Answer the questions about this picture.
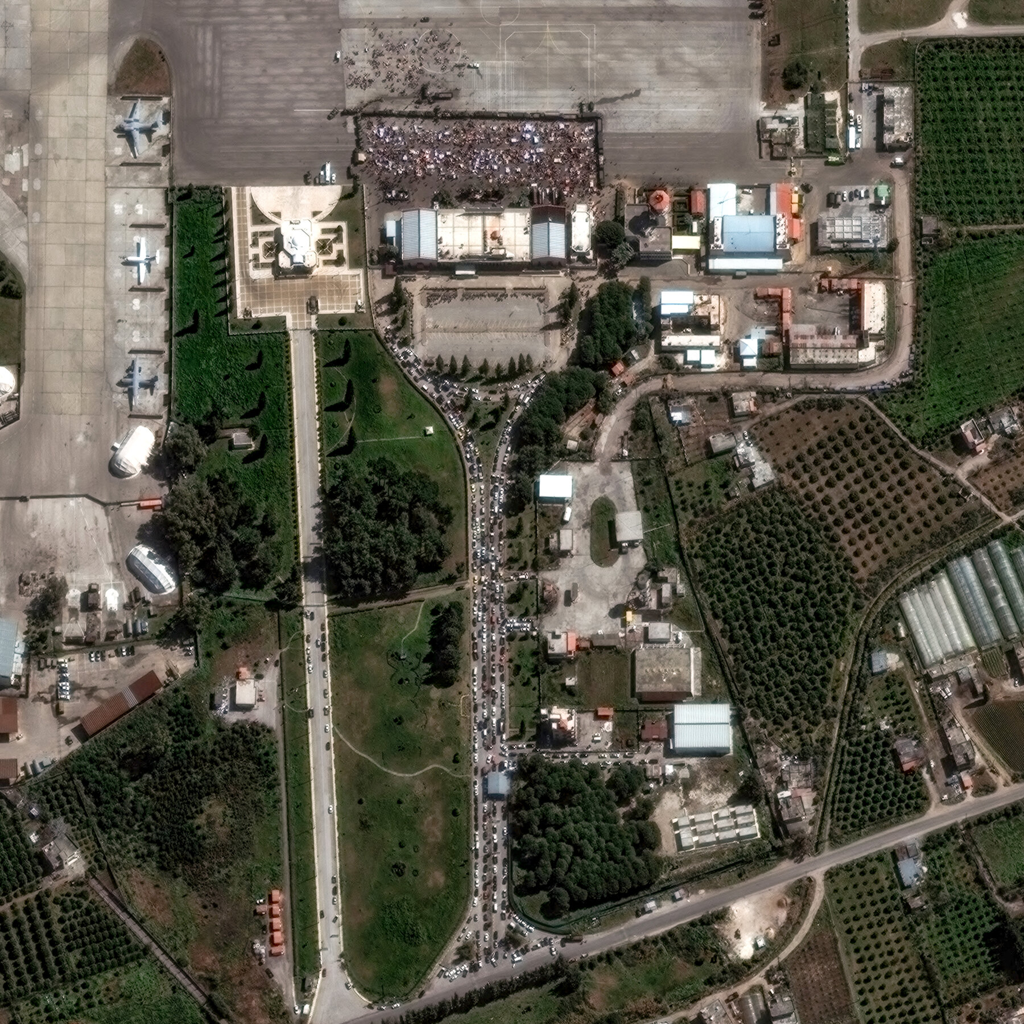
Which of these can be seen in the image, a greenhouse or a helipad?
greenhouse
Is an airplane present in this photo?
Yes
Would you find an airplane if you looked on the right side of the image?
No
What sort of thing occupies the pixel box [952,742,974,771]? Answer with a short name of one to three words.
house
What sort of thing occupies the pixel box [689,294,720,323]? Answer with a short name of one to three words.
building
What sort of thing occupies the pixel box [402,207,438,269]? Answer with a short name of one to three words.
hangar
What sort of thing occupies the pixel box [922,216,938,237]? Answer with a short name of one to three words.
shed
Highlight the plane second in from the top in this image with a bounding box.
[125,237,160,280]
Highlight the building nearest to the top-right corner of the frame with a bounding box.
[883,87,913,152]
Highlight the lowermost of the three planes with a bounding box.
[116,357,159,405]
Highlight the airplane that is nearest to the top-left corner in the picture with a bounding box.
[115,101,155,150]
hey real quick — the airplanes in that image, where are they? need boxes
[125,237,160,280]
[116,357,159,405]
[115,101,155,150]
